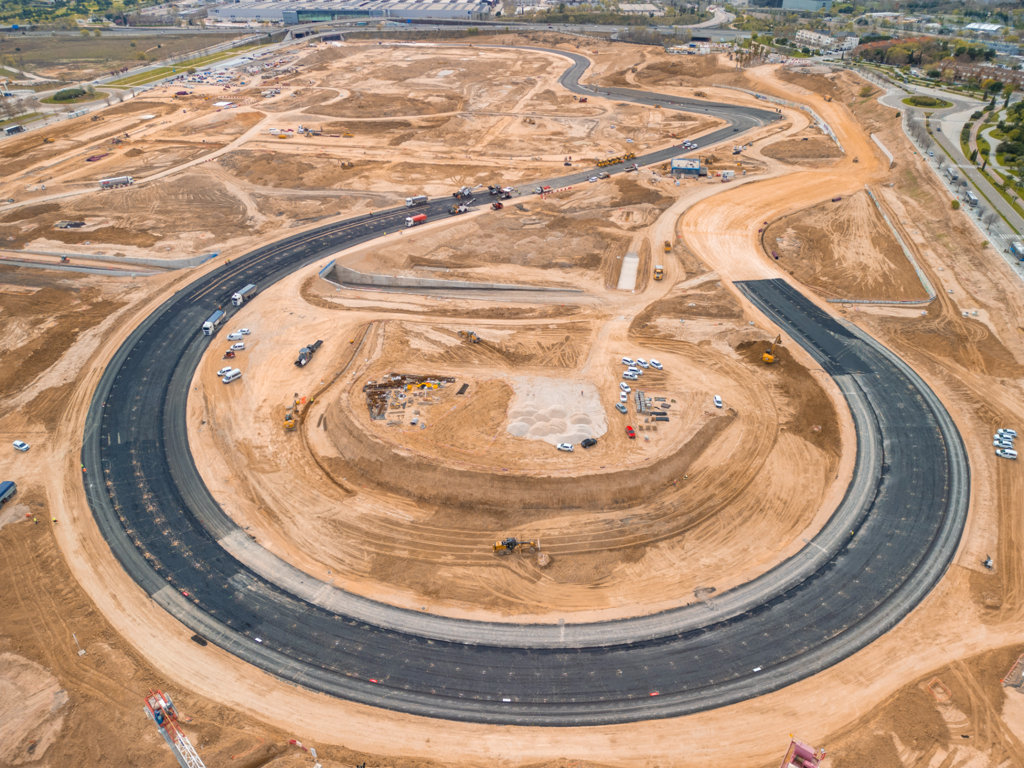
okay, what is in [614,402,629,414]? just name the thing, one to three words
vehicle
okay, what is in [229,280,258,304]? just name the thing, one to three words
truck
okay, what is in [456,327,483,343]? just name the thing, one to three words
work vehicle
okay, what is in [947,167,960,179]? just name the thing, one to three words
vehicle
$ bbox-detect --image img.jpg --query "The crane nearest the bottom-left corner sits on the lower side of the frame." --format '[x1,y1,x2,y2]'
[138,687,198,768]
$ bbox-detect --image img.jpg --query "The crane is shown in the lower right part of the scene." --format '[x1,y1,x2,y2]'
[777,732,828,768]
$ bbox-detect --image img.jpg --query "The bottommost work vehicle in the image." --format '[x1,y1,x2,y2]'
[494,534,538,555]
